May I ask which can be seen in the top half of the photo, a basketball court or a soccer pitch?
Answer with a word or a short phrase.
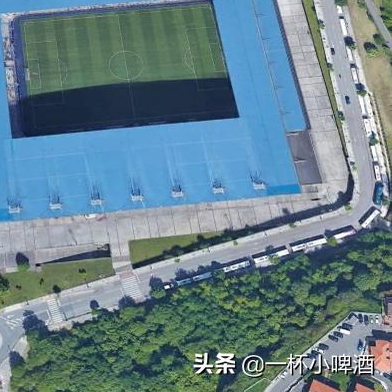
soccer pitch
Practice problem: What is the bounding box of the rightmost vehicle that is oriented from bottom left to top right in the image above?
[360,210,381,230]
